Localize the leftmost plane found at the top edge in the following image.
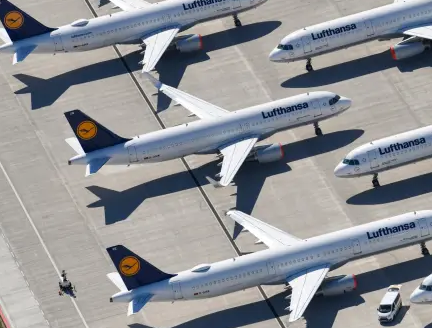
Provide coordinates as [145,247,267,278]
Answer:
[0,0,264,75]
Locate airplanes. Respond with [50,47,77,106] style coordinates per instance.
[65,71,351,188]
[0,0,264,75]
[332,125,432,187]
[268,0,432,72]
[106,210,432,327]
